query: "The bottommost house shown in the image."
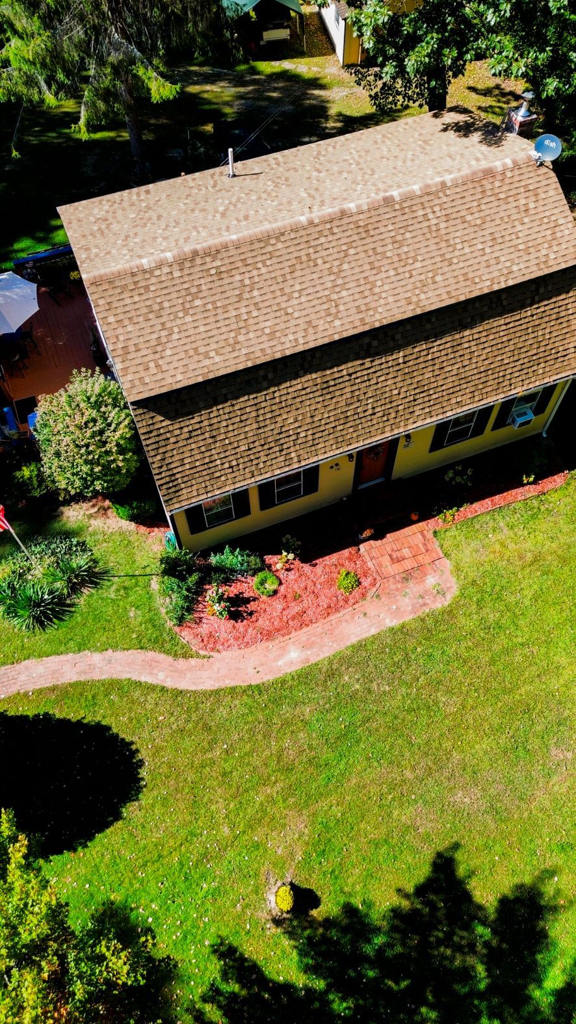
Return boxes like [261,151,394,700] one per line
[57,86,576,551]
